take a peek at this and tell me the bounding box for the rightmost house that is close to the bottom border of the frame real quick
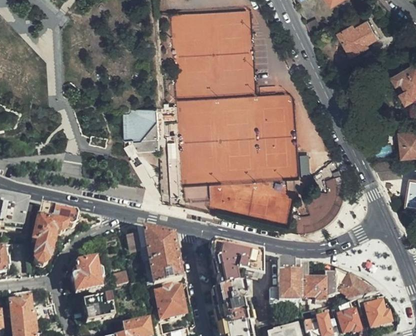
[364,298,396,332]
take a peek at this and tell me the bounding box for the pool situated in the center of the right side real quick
[376,144,394,159]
